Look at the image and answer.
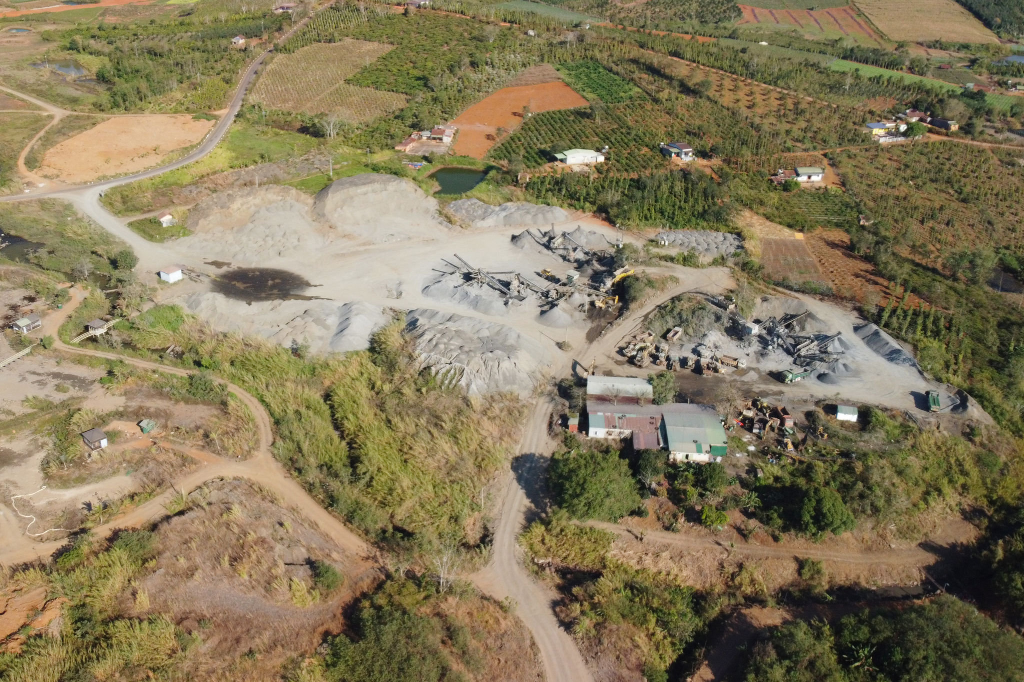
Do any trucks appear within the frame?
Yes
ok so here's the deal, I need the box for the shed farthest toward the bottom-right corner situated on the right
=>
[833,398,861,419]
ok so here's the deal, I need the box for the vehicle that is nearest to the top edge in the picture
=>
[533,265,559,281]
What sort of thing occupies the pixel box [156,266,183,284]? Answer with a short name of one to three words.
shed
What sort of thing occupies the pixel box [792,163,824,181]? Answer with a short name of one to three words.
house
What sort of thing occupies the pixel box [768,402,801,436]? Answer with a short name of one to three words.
truck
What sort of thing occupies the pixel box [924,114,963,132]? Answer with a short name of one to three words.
barn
